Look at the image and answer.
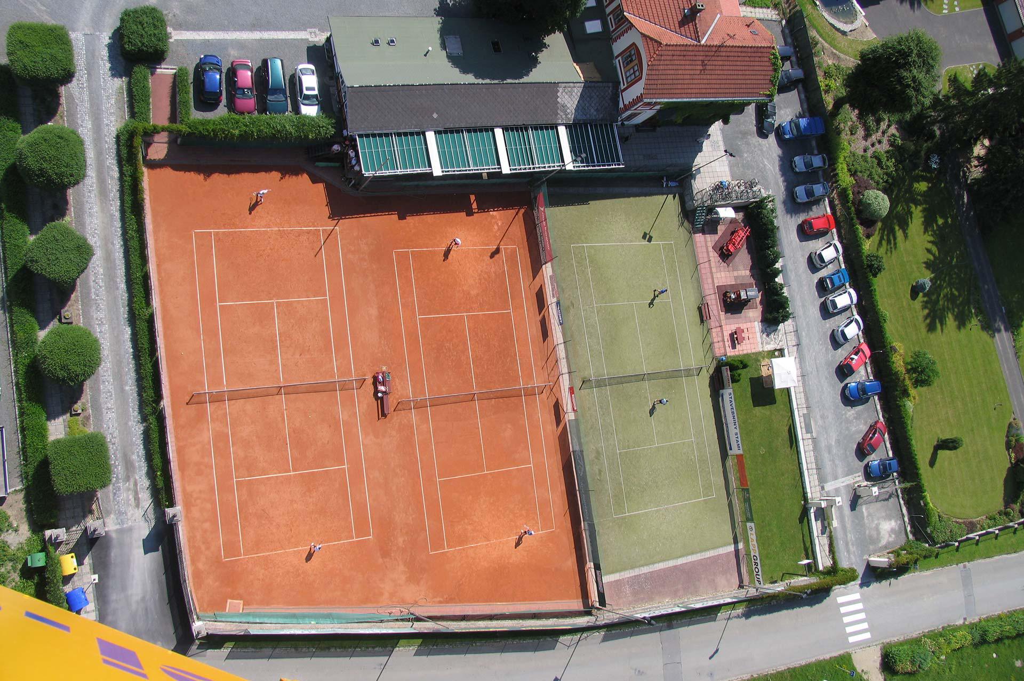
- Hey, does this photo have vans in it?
Yes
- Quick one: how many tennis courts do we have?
three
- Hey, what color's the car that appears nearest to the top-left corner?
blue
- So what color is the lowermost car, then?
blue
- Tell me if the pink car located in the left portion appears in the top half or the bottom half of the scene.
top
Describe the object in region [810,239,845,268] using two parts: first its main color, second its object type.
white car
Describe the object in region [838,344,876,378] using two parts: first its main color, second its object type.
red car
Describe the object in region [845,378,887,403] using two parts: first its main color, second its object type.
blue car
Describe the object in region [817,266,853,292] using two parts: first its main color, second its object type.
blue car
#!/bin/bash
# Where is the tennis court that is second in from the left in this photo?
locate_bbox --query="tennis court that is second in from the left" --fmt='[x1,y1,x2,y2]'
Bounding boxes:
[356,193,587,604]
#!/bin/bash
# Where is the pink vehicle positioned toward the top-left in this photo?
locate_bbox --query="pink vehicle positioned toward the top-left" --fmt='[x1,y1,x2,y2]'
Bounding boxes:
[228,56,260,116]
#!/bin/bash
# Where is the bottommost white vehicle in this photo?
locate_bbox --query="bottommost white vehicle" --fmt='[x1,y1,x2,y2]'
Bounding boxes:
[830,314,866,344]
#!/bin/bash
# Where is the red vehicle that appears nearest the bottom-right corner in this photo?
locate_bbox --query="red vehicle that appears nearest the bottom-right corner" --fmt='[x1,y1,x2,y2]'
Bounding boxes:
[857,422,891,457]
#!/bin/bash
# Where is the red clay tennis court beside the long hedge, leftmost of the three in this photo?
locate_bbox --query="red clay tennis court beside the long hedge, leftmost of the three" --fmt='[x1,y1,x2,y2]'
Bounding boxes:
[146,170,401,612]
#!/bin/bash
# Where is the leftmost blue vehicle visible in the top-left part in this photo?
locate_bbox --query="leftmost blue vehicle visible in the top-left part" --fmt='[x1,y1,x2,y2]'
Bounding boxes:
[195,52,226,107]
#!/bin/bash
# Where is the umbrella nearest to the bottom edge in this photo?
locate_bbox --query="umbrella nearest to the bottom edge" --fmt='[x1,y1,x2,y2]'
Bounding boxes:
[767,357,797,388]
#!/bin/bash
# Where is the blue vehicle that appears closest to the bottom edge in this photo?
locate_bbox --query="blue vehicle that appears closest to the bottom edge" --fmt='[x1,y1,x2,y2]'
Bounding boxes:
[866,455,902,479]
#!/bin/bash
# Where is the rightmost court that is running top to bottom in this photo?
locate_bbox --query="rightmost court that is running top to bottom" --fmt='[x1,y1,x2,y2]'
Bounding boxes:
[541,193,736,581]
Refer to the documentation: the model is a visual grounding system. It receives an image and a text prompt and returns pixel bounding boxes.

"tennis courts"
[356,193,587,604]
[146,170,401,612]
[541,193,736,581]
